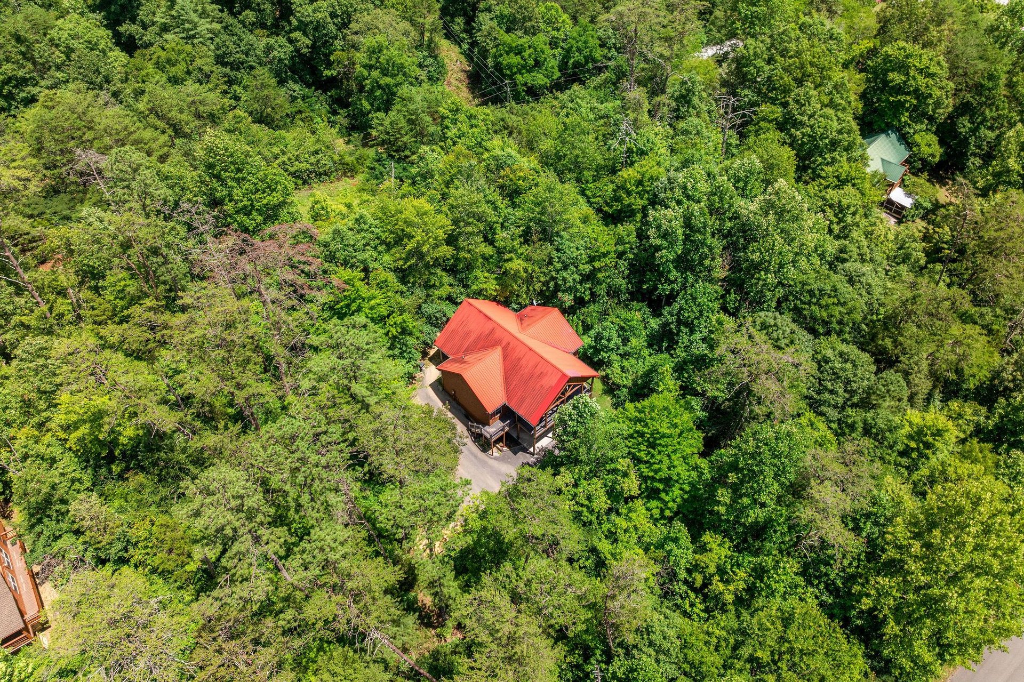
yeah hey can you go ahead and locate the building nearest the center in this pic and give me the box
[433,298,600,455]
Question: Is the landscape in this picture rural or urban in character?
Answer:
rural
